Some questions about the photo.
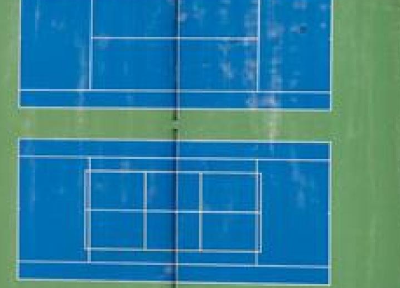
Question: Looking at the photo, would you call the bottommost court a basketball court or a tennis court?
tennis court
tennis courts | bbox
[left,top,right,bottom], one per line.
[19,0,334,111]
[17,138,331,286]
